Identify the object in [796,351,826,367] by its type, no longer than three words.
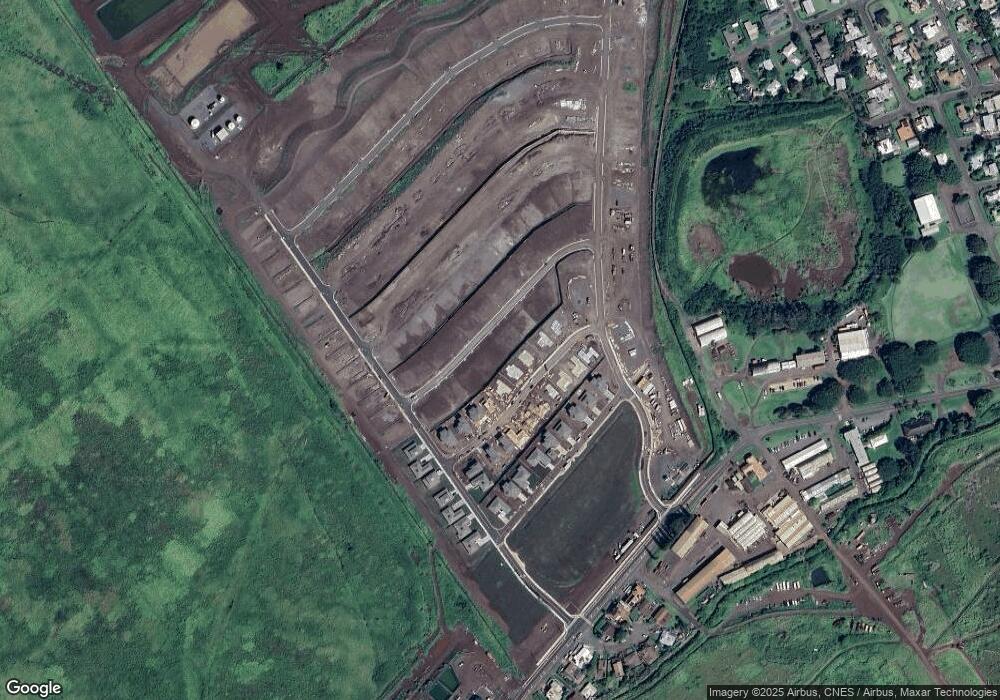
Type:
building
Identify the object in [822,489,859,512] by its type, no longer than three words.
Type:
shed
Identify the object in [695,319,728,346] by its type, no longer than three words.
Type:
building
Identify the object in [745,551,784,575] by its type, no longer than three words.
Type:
shed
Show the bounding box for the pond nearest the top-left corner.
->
[100,0,177,39]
